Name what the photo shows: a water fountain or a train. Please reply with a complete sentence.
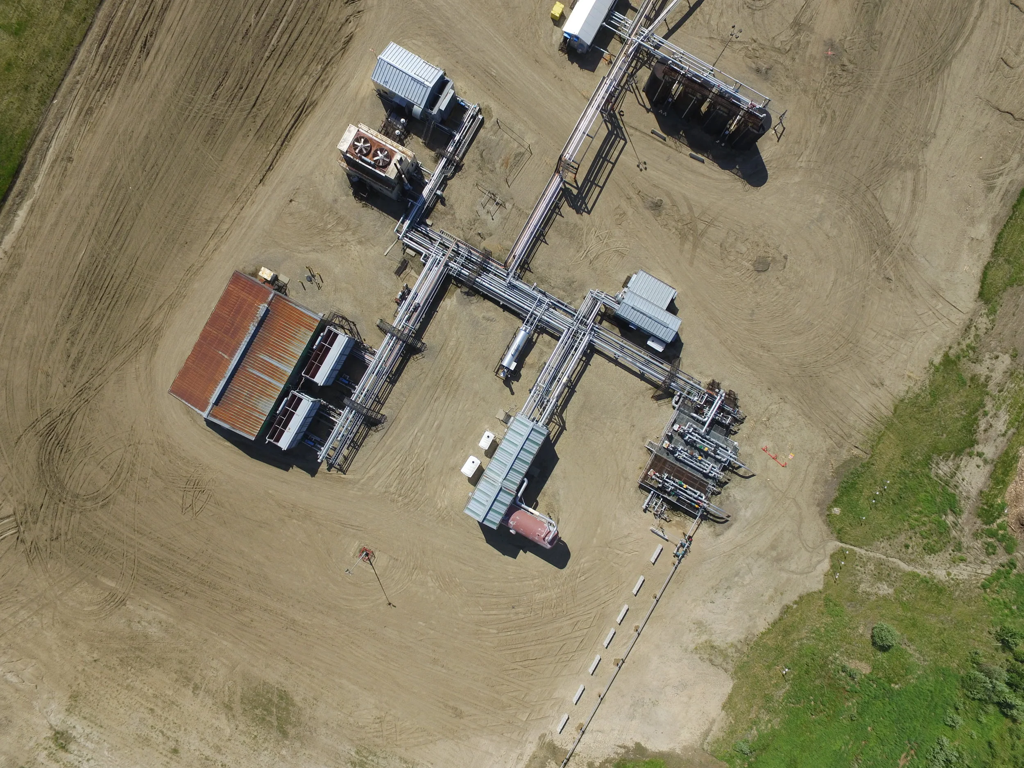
Of the two, only a train appears.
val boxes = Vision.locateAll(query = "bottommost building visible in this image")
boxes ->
[462,474,521,530]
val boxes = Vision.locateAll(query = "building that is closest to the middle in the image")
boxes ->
[484,406,551,493]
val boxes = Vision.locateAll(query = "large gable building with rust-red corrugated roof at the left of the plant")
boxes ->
[167,270,334,440]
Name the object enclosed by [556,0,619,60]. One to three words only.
building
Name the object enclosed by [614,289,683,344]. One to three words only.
building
